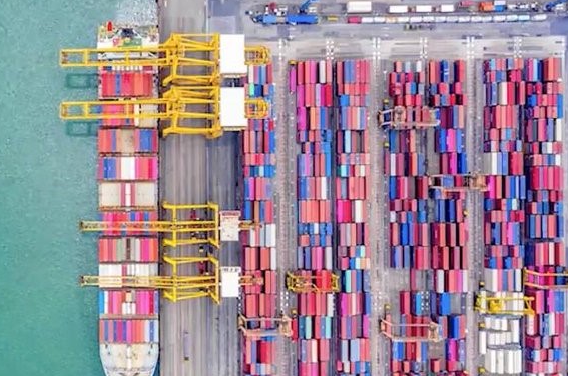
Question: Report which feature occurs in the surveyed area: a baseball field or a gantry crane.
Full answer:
Looking from above, you can make out a gantry crane.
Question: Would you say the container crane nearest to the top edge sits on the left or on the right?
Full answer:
It is on the left.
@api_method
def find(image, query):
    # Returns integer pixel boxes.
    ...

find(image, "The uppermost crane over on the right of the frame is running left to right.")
[378,107,441,129]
